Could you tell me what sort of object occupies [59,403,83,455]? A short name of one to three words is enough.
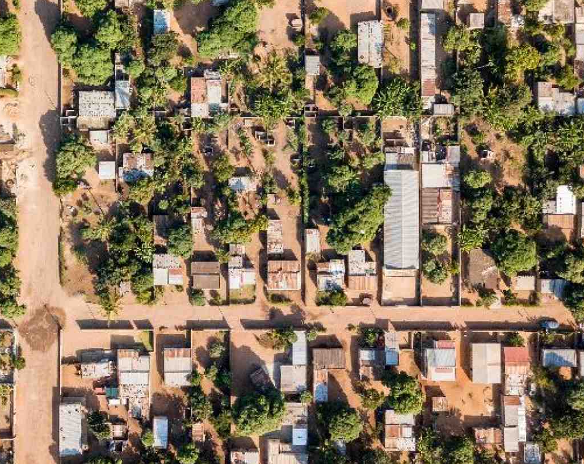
house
